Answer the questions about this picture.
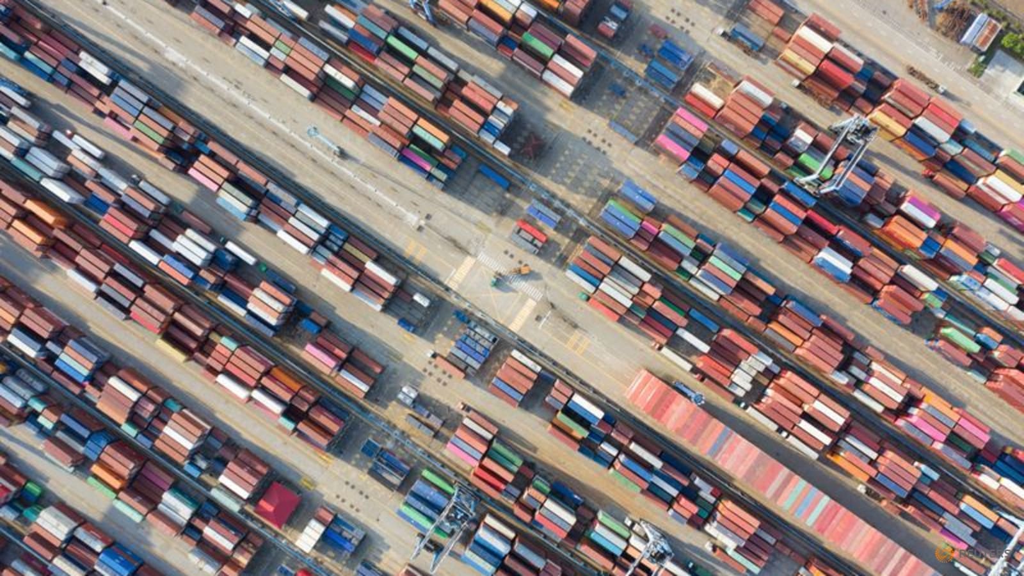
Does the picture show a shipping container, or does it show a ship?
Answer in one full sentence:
Looking from above, you can make out a shipping container.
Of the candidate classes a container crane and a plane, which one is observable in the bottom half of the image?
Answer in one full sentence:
You can see a container crane in the bottom half of the image.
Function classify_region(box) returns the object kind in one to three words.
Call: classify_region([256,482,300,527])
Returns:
shed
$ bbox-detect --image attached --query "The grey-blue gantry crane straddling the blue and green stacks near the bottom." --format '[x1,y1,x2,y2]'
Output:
[400,487,475,576]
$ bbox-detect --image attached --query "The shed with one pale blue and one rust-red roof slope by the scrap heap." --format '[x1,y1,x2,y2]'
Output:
[955,10,1001,58]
